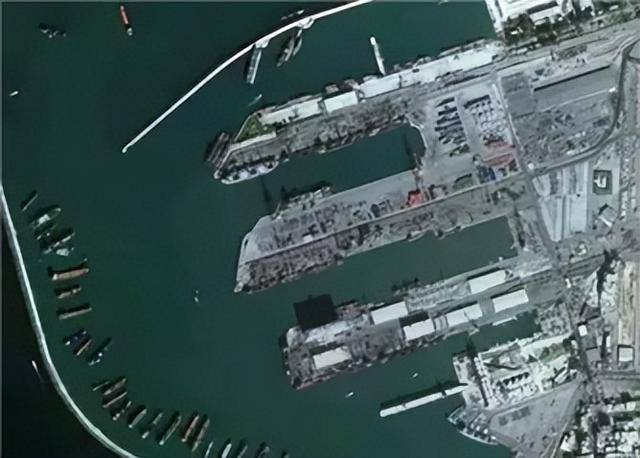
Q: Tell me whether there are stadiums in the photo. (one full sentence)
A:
No, I can see no stadium in this picture.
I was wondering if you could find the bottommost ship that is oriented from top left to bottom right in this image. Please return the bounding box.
[449,412,501,445]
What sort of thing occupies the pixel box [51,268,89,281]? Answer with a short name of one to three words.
ship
